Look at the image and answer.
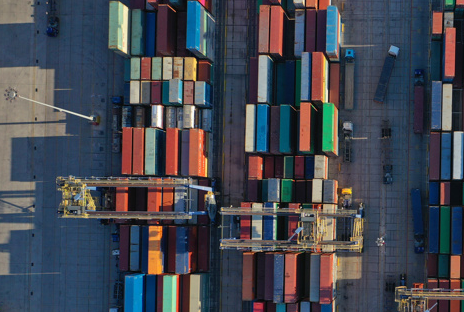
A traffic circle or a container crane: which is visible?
container crane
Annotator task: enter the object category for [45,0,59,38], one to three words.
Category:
vehicle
